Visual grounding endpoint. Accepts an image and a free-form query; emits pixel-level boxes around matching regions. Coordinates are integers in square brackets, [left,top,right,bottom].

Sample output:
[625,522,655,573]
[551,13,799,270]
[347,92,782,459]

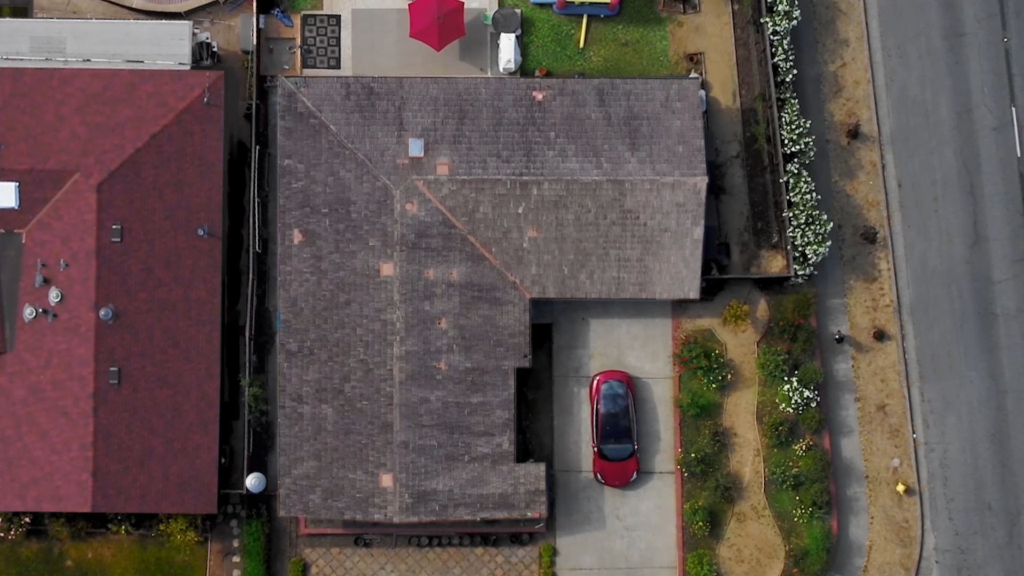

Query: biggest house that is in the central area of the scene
[276,75,708,523]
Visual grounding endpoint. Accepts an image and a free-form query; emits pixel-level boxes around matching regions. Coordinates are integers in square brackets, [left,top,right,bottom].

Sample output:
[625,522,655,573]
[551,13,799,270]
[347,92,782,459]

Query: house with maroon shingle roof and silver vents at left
[0,68,226,513]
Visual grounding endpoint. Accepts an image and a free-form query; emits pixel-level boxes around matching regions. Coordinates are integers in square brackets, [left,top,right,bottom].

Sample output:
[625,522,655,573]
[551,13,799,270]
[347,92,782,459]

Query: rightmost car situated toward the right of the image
[590,370,643,488]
